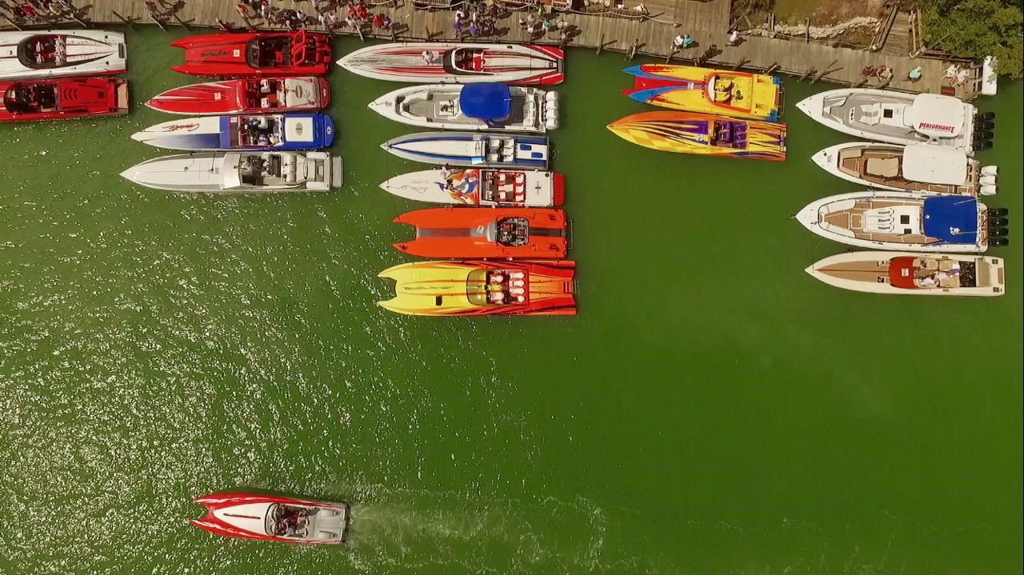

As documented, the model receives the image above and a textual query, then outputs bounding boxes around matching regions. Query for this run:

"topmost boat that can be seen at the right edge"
[795,89,995,157]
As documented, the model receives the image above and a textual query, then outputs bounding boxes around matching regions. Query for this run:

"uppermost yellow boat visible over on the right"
[619,65,786,122]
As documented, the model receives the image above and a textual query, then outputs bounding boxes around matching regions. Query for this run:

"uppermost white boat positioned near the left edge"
[0,31,135,78]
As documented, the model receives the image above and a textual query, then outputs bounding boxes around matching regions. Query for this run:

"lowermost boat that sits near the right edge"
[805,251,1005,296]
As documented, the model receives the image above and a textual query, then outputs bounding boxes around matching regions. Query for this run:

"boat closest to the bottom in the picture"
[192,494,353,544]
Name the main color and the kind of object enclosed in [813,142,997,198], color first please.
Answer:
white boat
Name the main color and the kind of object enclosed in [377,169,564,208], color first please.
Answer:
white boat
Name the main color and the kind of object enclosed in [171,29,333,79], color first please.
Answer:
red boat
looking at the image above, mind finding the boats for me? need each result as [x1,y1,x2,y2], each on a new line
[378,261,577,317]
[795,89,995,157]
[143,78,331,117]
[367,80,560,133]
[805,251,1005,296]
[606,111,787,162]
[192,494,353,544]
[619,65,786,122]
[813,142,997,198]
[0,78,135,121]
[379,131,556,170]
[792,191,1009,253]
[334,43,564,87]
[393,209,573,259]
[117,152,347,192]
[0,31,135,78]
[377,169,564,208]
[129,115,335,153]
[171,29,333,79]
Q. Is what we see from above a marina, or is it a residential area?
marina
